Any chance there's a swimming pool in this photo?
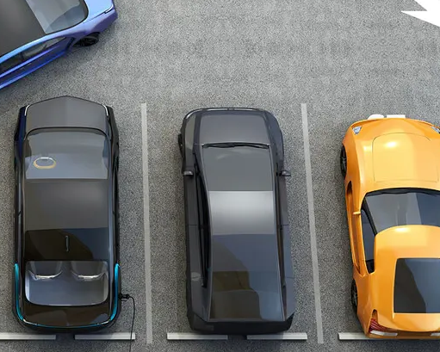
No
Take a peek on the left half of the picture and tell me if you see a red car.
No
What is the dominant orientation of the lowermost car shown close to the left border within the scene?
from top to bottom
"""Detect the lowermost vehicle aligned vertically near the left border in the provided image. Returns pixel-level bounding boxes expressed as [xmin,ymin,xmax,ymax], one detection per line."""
[14,95,118,333]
